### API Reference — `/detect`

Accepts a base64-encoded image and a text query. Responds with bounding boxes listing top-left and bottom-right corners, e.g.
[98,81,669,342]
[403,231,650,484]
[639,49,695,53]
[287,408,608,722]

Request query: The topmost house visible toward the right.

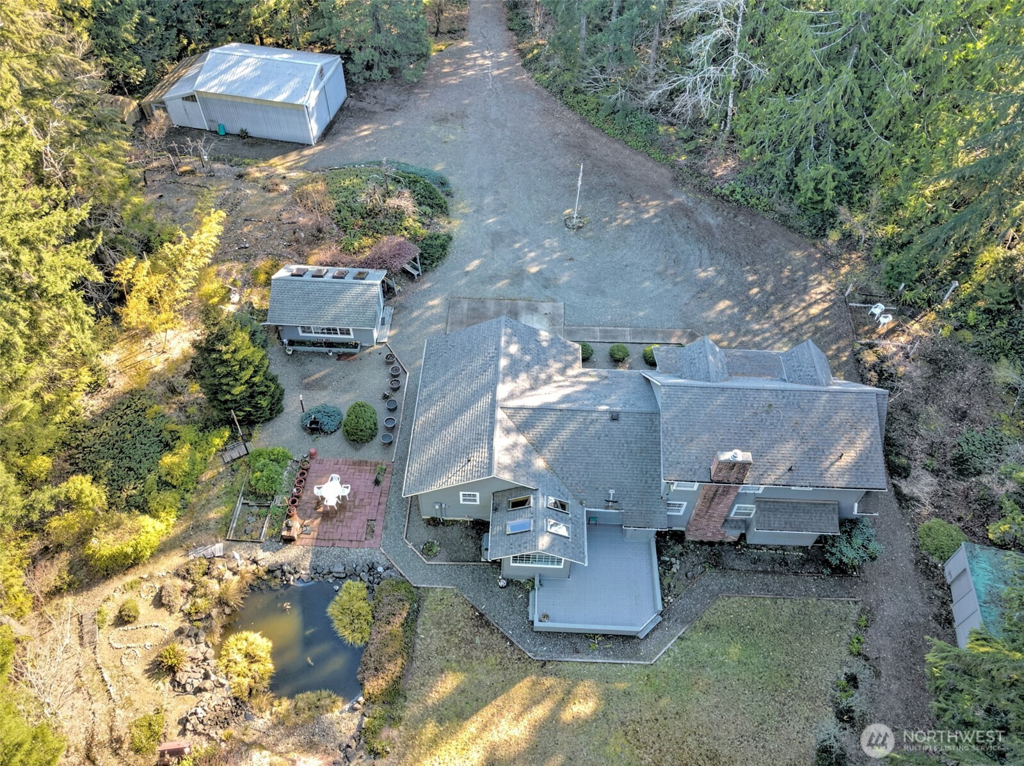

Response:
[399,316,888,583]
